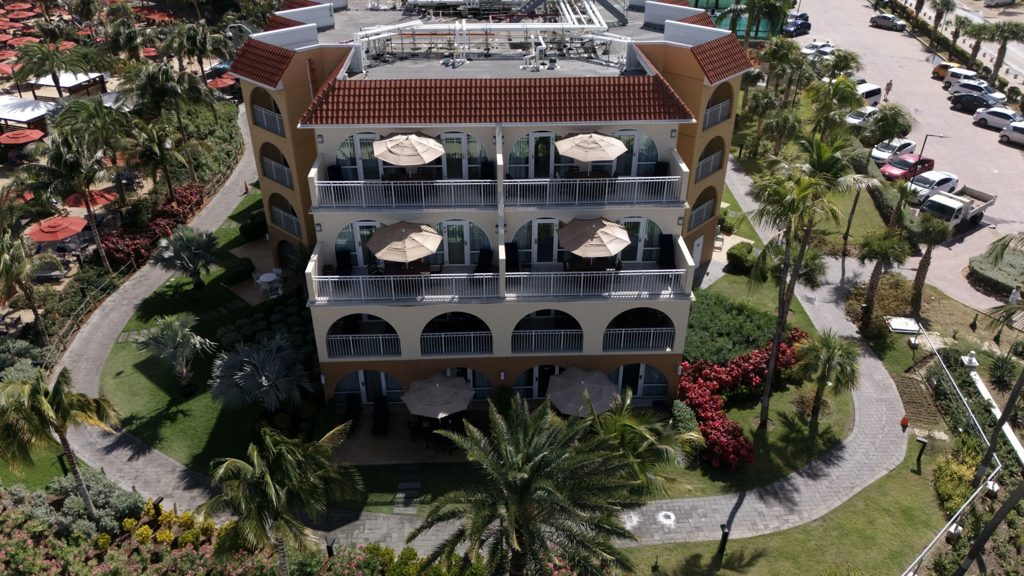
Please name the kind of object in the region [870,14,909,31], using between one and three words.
car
